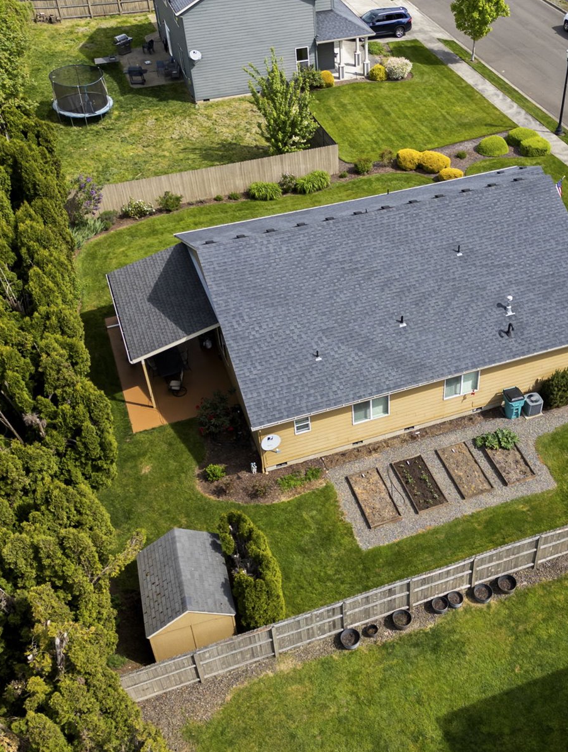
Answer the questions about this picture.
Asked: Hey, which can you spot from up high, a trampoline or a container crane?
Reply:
trampoline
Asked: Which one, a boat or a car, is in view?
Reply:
car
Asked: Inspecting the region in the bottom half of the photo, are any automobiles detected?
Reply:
No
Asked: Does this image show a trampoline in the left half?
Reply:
Yes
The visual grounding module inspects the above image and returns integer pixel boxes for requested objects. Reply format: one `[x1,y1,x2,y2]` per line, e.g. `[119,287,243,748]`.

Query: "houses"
[151,0,377,101]
[106,167,568,477]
